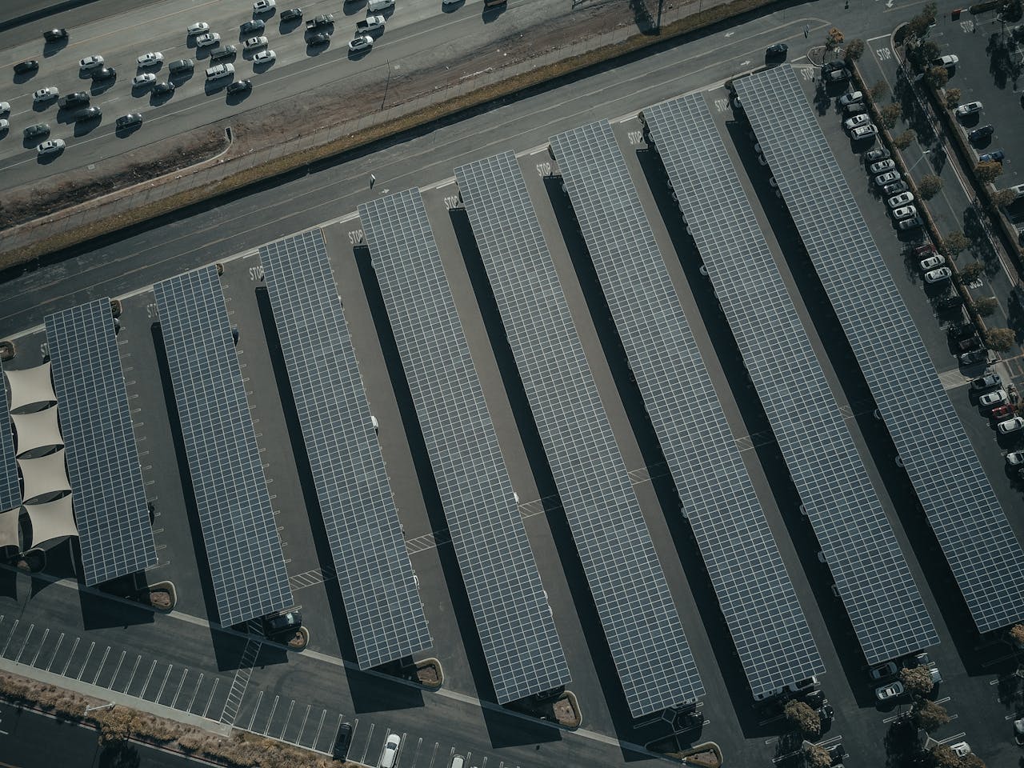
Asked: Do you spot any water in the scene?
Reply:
No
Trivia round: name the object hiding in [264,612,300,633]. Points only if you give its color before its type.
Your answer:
black vehicle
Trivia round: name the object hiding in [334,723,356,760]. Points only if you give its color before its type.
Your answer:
black car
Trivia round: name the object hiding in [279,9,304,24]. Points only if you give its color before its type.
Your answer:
black car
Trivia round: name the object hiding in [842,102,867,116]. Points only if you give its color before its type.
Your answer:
gray car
